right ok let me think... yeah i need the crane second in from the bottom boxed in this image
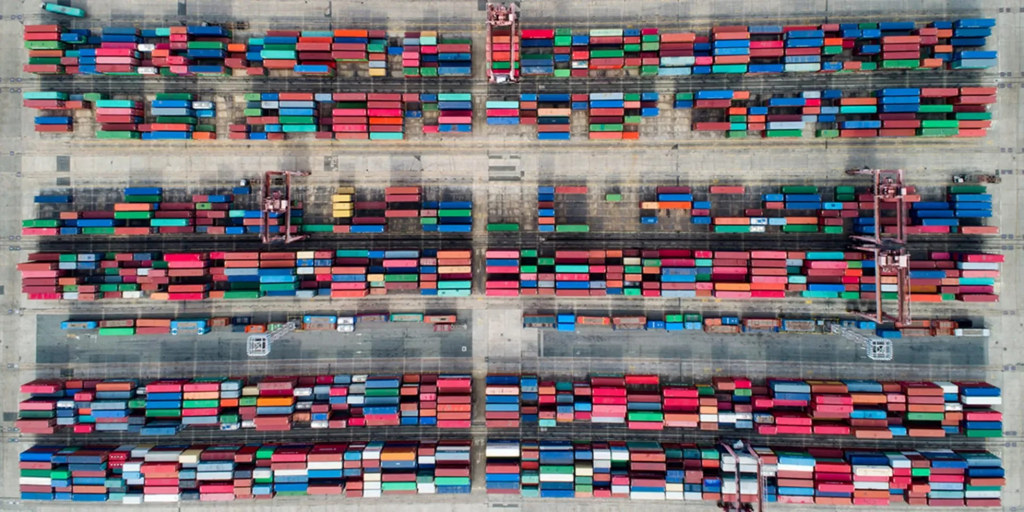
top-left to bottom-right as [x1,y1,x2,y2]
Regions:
[843,242,909,324]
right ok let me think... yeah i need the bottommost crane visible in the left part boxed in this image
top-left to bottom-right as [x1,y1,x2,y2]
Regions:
[263,171,314,243]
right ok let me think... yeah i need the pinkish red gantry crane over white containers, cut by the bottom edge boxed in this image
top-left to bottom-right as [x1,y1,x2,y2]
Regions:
[715,436,765,512]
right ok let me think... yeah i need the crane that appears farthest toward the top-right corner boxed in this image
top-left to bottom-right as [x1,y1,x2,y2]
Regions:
[843,168,906,244]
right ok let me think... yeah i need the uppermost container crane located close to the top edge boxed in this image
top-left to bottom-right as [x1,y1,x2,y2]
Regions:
[486,1,520,88]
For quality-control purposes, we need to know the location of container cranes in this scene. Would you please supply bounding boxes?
[843,242,909,324]
[486,1,520,88]
[715,436,765,512]
[843,168,906,244]
[263,171,314,243]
